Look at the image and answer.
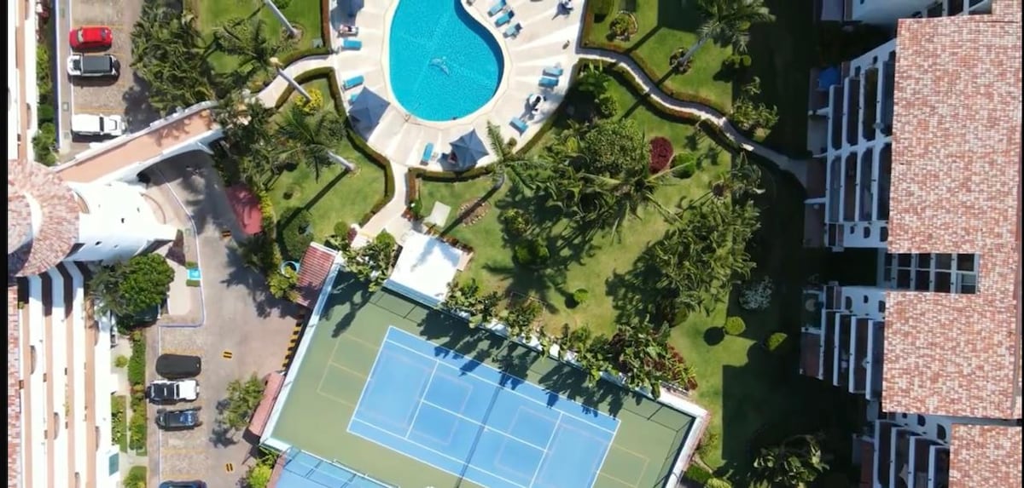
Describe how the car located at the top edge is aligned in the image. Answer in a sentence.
The car located at the top edge runs from left to right in the image.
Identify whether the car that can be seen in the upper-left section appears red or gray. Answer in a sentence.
From above, the car that can be seen in the upper-left section appears red.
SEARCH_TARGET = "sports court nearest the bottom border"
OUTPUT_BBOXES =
[243,447,364,488]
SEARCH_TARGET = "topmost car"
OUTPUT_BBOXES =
[66,24,110,47]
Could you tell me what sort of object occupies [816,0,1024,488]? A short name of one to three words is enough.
building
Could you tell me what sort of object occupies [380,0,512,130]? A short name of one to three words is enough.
swimming pool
